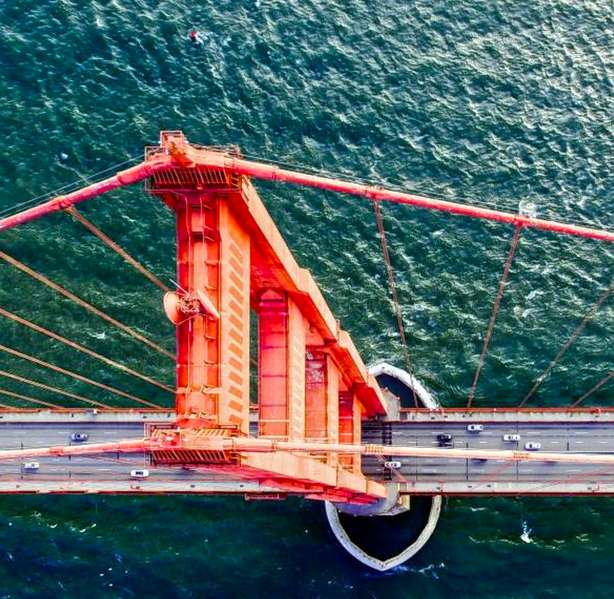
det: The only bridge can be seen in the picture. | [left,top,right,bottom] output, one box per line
[0,127,614,517]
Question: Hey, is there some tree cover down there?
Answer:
No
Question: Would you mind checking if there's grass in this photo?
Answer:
No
